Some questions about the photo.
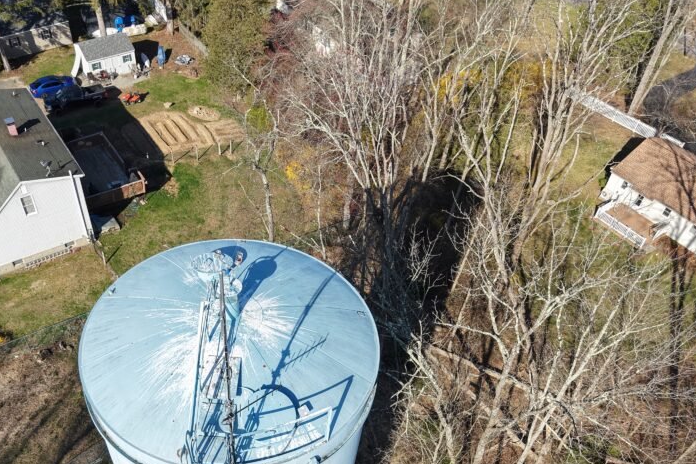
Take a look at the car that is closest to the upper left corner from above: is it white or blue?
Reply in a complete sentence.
From above, the car that is closest to the upper left corner appears blue.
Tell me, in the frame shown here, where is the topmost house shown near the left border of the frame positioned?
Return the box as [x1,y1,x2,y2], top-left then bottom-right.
[0,0,74,56]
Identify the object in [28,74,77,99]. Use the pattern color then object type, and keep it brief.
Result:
blue car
